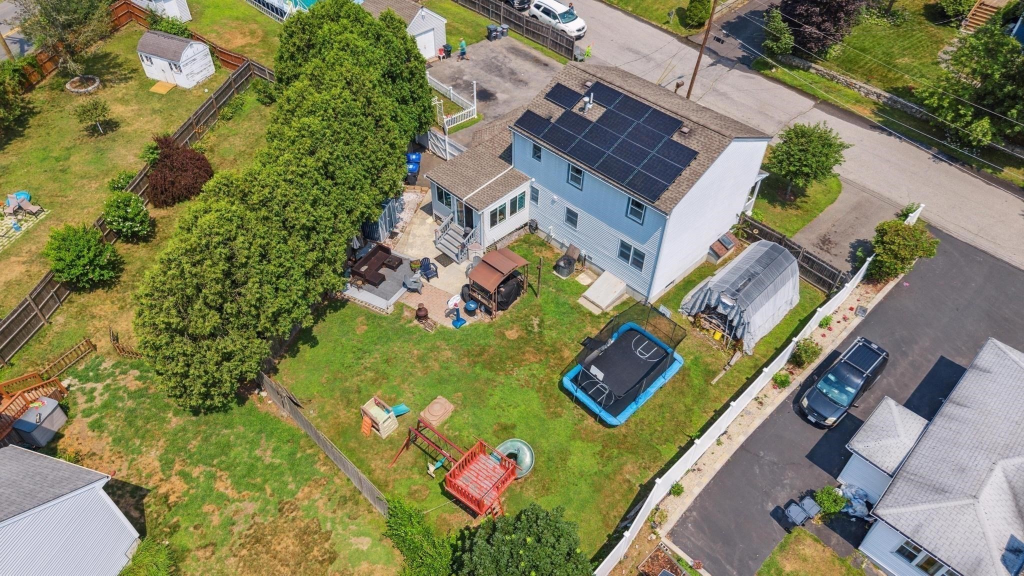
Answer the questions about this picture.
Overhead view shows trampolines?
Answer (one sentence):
Yes, a trampoline can be made out from above.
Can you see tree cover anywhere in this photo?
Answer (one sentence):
Yes, the picture does contain tree cover.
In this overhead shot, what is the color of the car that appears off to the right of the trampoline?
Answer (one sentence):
The car that appears off to the right of the trampoline is blue.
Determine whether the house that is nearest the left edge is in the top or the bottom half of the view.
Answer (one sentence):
You can find the house that is nearest the left edge in the bottom half.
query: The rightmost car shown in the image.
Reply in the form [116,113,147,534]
[800,330,891,428]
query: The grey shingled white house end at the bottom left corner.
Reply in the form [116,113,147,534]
[0,439,137,576]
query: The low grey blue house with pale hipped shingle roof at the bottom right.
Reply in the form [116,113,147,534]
[836,337,1024,576]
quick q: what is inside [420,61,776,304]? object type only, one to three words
house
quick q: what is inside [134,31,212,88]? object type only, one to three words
shed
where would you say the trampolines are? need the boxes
[565,302,685,423]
